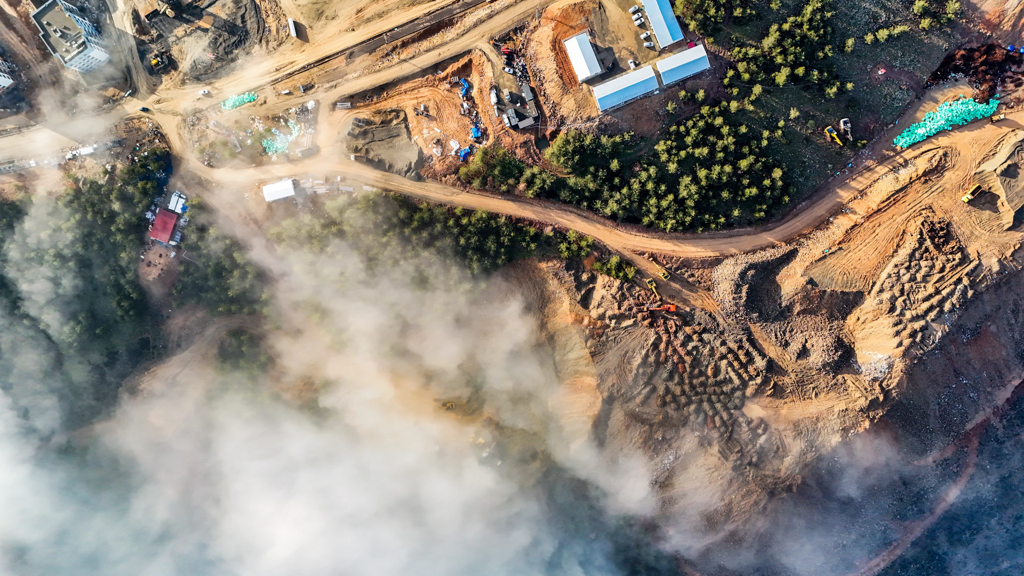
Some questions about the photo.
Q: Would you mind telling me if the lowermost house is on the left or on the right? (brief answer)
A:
left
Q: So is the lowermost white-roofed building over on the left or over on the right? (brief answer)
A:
left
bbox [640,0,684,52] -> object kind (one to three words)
building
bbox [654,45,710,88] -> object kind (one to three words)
building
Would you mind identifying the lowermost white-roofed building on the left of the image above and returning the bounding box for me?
[262,178,300,204]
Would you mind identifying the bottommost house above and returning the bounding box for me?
[149,208,178,245]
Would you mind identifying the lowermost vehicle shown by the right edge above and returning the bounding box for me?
[964,182,987,201]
